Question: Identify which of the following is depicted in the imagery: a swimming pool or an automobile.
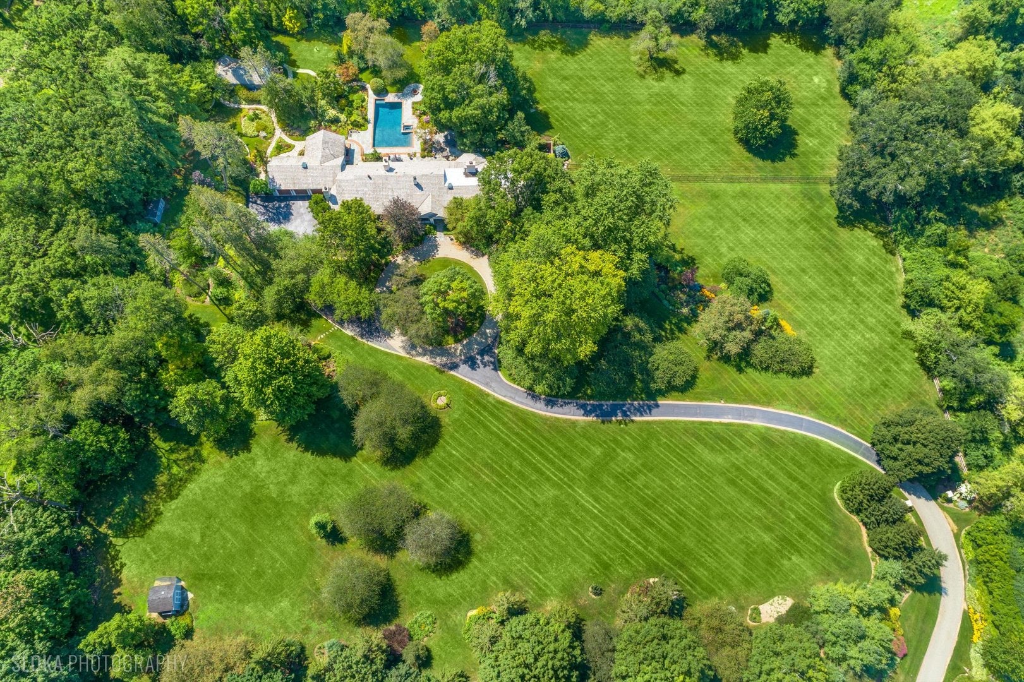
swimming pool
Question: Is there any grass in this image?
Yes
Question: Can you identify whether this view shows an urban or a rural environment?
rural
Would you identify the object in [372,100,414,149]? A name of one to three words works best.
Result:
swimming pool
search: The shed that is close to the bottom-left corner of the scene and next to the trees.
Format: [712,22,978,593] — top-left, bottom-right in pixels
[144,574,190,614]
